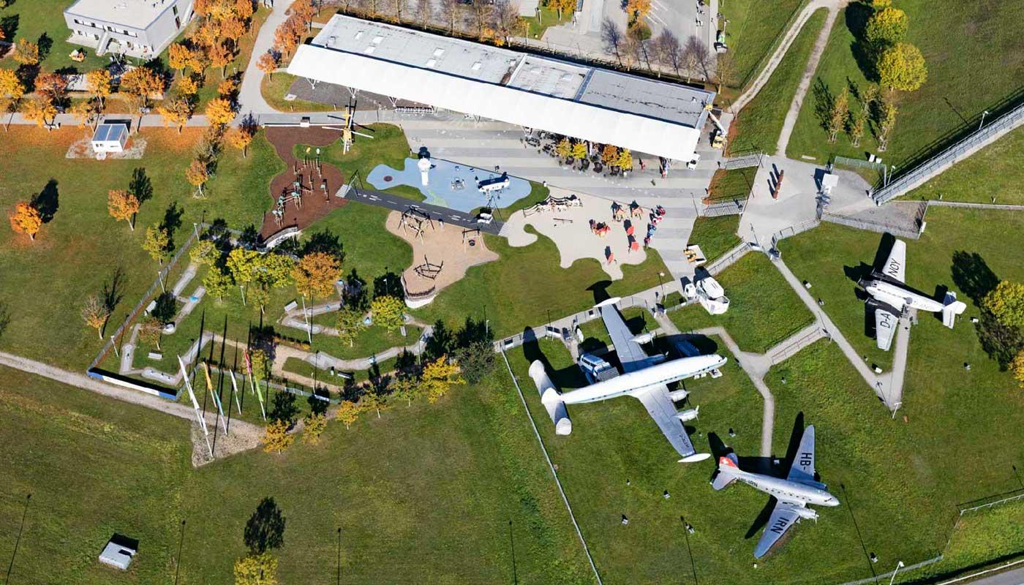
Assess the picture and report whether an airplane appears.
Yes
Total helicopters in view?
1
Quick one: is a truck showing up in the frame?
Yes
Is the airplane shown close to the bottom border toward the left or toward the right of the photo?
right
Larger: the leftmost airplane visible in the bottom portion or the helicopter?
the airplane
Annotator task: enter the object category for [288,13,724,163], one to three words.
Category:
building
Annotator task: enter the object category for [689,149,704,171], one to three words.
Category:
vehicle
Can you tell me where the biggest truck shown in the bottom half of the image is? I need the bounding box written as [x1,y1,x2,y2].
[575,350,621,382]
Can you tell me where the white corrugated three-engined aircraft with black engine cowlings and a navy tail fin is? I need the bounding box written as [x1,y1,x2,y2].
[855,239,961,350]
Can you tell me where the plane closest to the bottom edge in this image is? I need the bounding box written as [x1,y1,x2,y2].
[720,427,839,561]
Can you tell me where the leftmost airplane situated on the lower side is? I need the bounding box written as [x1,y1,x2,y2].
[534,296,726,463]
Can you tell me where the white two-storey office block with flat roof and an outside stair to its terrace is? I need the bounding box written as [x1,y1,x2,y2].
[52,0,196,70]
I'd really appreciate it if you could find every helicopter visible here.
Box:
[318,116,371,166]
